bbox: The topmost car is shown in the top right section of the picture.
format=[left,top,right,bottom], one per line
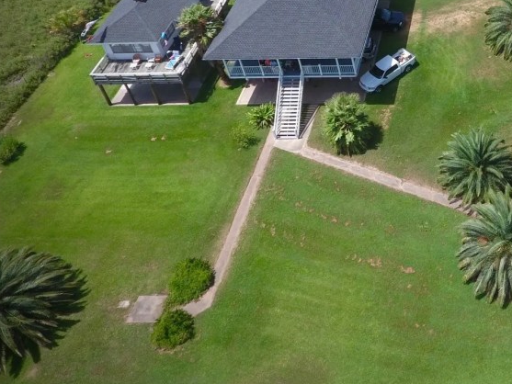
[371,10,406,37]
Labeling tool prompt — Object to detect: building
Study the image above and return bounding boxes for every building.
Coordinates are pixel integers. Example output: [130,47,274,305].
[85,0,237,105]
[204,0,388,137]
